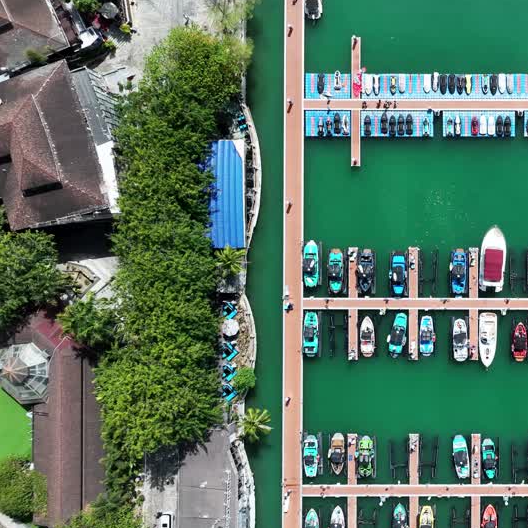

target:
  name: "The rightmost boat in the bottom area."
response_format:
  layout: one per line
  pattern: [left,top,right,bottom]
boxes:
[511,323,528,361]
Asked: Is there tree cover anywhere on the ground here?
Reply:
Yes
